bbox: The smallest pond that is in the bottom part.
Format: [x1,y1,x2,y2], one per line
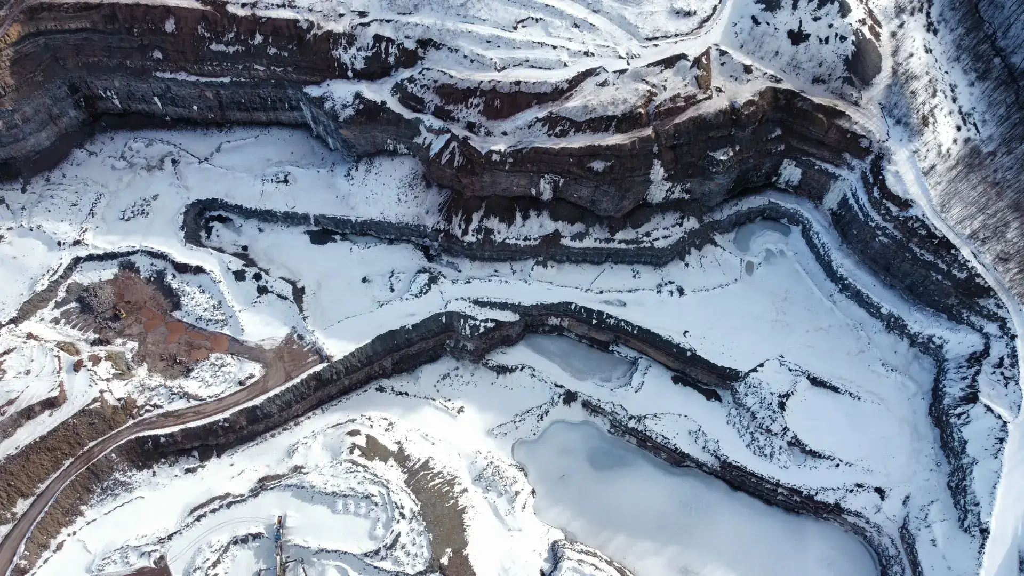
[524,334,633,382]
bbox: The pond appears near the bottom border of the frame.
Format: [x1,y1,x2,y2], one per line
[513,420,880,576]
